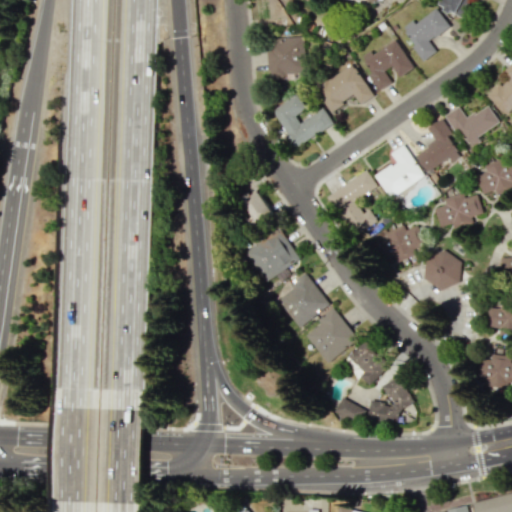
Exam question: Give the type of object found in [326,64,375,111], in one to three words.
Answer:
house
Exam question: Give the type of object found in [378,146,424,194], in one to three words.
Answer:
house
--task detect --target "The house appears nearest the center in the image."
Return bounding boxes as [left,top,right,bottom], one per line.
[248,234,299,281]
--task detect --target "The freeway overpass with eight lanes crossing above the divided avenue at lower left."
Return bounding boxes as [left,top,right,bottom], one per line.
[47,402,143,506]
